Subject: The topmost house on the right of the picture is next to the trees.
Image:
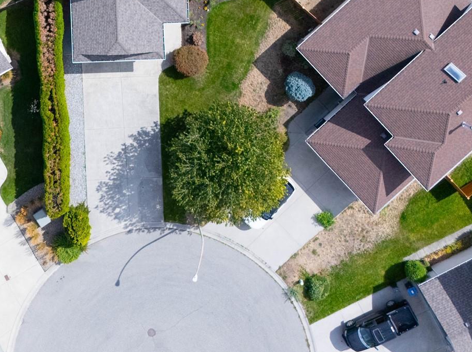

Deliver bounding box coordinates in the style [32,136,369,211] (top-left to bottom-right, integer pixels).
[294,0,472,215]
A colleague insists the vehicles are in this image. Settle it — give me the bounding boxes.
[340,298,421,352]
[243,177,298,235]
